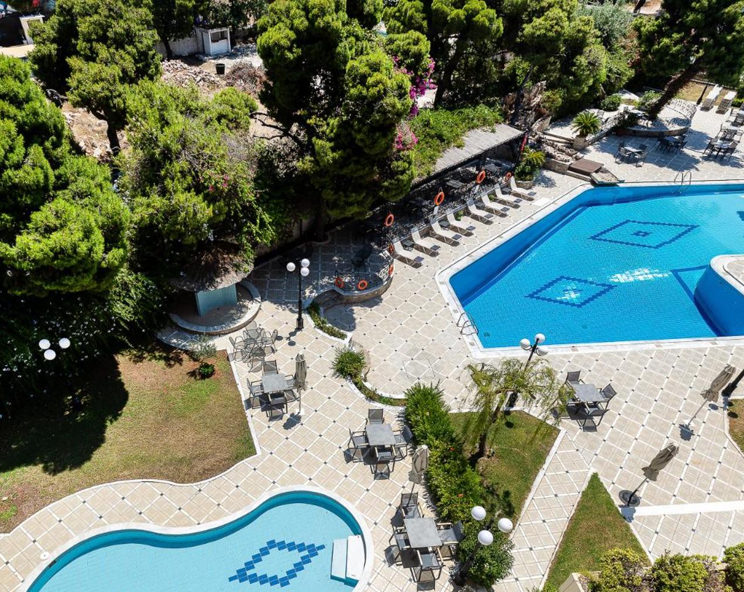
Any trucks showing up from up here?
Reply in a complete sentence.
No, no truck is visible in the view.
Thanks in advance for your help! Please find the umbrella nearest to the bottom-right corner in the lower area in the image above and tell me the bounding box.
[617,444,676,512]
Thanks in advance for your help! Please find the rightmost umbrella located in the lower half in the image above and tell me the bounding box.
[680,370,740,432]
